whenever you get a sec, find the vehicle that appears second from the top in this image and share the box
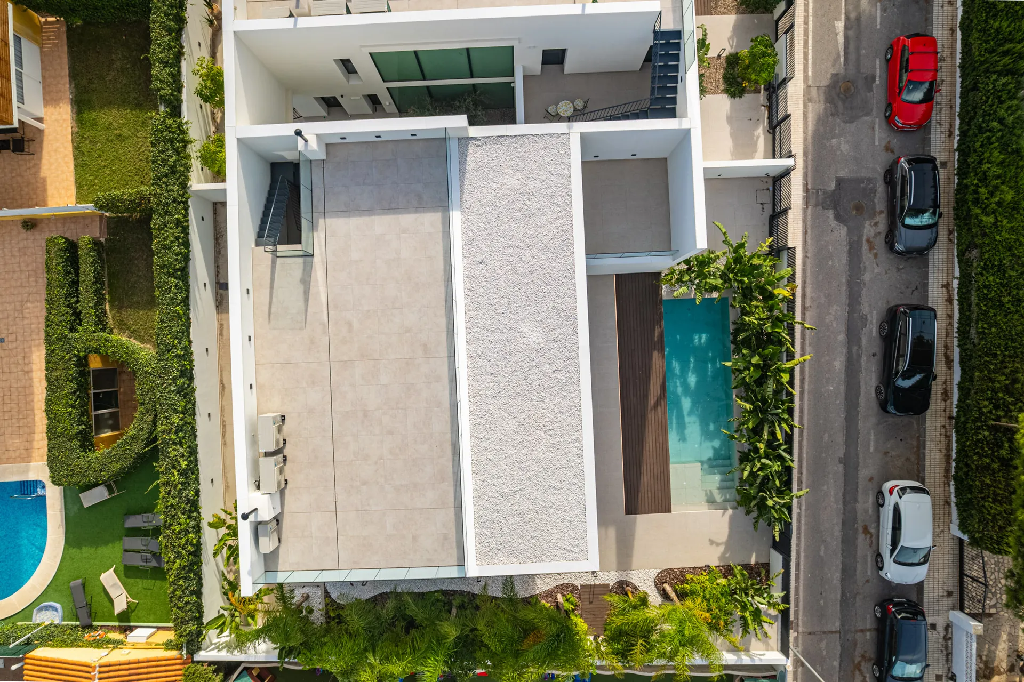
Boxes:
[879,154,941,259]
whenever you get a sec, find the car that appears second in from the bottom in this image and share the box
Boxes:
[873,479,933,580]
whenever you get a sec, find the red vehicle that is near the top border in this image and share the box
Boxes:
[882,34,941,134]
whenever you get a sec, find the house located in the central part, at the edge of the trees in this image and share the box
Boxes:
[222,0,707,596]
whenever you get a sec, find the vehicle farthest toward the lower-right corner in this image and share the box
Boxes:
[871,595,929,682]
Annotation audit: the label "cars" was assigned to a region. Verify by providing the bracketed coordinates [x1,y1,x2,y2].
[873,479,933,580]
[871,595,929,682]
[882,34,941,134]
[875,304,938,418]
[879,154,941,259]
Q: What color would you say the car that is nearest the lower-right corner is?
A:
black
